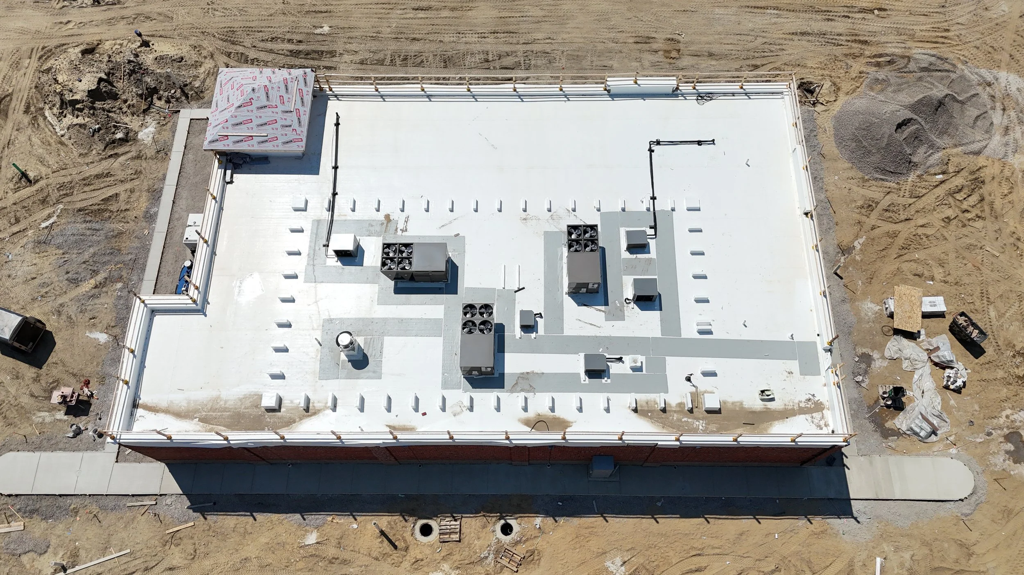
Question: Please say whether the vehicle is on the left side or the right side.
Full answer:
It is on the left.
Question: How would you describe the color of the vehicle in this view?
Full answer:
In this view, the vehicle is black.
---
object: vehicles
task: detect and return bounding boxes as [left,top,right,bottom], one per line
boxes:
[0,304,54,356]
